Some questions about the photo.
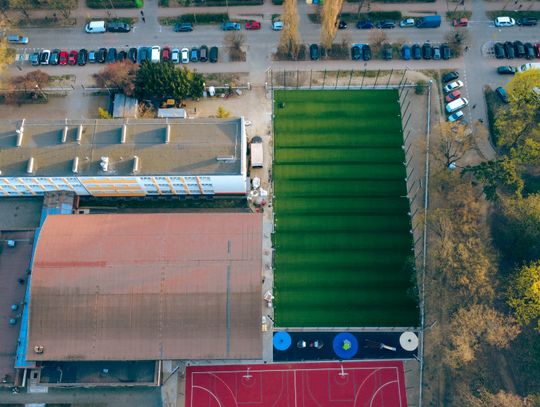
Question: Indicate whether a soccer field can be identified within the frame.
Yes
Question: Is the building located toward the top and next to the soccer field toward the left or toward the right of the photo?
left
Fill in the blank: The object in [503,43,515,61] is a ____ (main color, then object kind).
black vehicle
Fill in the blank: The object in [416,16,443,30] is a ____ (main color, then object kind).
blue vehicle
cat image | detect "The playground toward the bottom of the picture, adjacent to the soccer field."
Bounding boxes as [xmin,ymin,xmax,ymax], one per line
[273,331,421,361]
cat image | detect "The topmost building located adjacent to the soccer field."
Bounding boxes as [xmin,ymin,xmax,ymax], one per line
[0,113,248,195]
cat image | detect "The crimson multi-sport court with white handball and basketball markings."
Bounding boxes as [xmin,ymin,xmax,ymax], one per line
[186,360,411,407]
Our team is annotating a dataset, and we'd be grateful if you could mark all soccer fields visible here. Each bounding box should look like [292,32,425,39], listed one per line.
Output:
[271,85,420,332]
